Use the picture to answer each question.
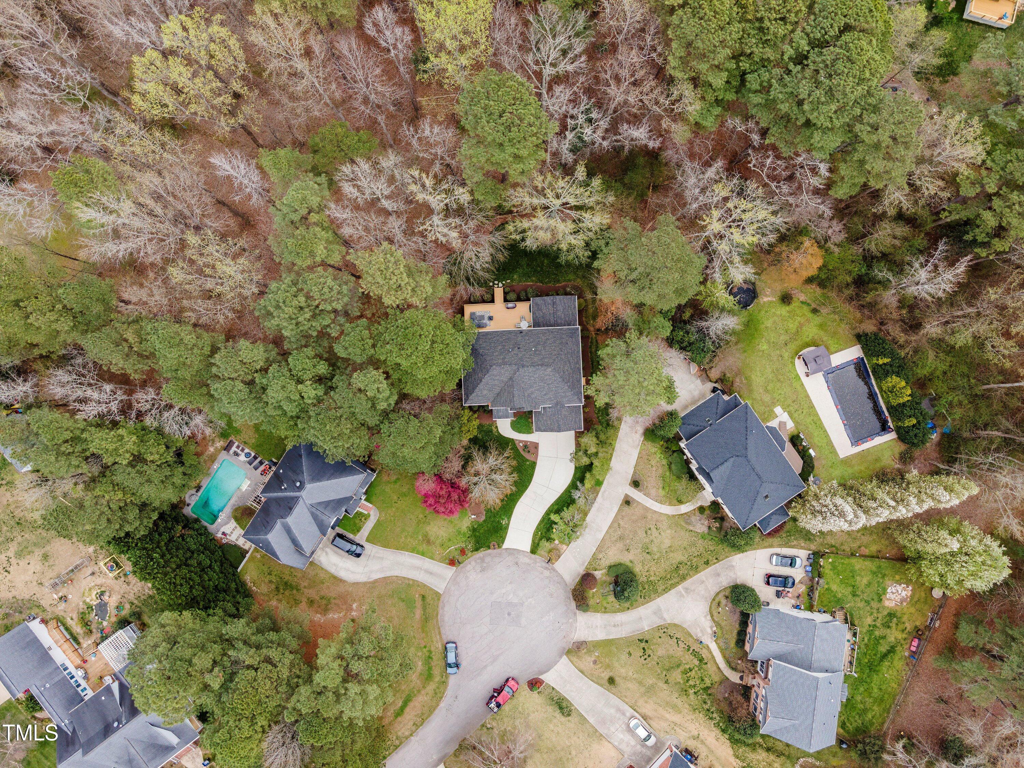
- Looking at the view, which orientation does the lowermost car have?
on a diagonal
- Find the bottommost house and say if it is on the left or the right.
right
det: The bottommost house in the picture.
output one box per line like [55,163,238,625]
[638,734,701,768]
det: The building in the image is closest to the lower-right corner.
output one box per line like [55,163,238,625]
[738,599,852,753]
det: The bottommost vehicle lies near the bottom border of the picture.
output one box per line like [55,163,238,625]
[626,717,655,748]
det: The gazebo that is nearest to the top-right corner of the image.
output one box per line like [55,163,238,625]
[796,346,832,375]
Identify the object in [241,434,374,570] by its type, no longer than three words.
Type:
house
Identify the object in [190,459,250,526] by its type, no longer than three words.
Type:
swimming pool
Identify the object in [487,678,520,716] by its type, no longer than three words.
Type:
truck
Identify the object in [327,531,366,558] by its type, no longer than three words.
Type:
car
